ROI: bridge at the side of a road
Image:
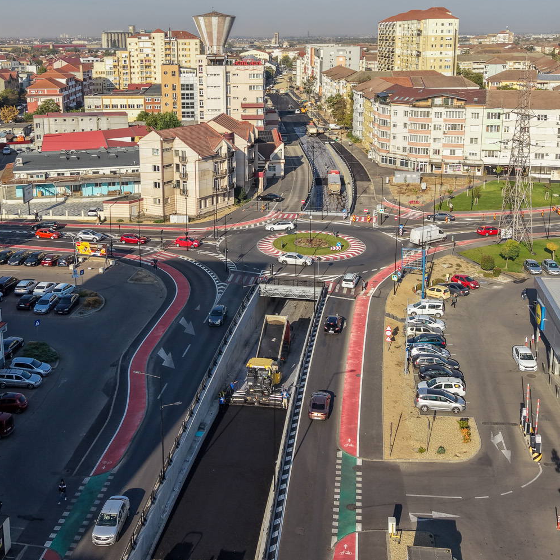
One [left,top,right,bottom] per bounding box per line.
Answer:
[261,284,320,302]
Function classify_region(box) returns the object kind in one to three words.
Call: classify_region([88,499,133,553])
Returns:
car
